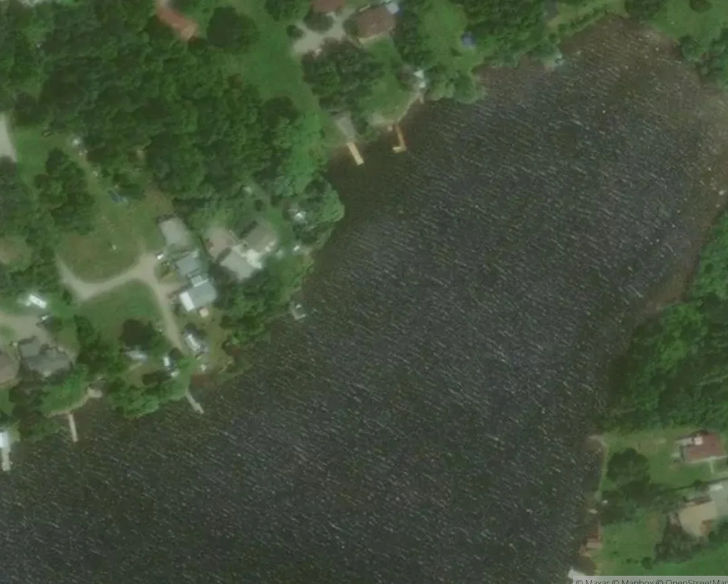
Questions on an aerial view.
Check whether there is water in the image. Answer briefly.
Yes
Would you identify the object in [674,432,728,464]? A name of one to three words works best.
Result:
house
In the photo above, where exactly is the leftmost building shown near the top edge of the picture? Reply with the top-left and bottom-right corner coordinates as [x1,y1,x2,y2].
[159,7,199,41]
